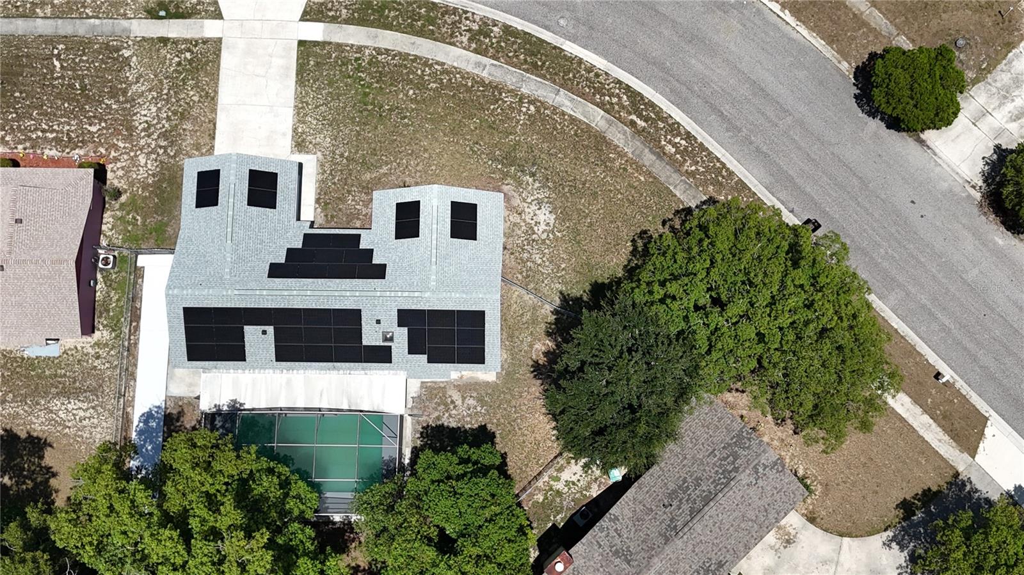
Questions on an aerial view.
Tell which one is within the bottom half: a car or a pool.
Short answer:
pool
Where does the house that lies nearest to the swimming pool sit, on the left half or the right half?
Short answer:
left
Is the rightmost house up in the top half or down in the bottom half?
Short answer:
bottom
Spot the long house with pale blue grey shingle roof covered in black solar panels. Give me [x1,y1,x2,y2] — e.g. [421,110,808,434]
[162,155,503,380]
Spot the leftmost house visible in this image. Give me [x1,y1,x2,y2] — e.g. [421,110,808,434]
[0,166,106,348]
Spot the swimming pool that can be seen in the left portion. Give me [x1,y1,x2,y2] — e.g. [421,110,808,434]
[250,412,383,493]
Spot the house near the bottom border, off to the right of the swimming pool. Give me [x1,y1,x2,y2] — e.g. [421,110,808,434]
[543,400,810,575]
